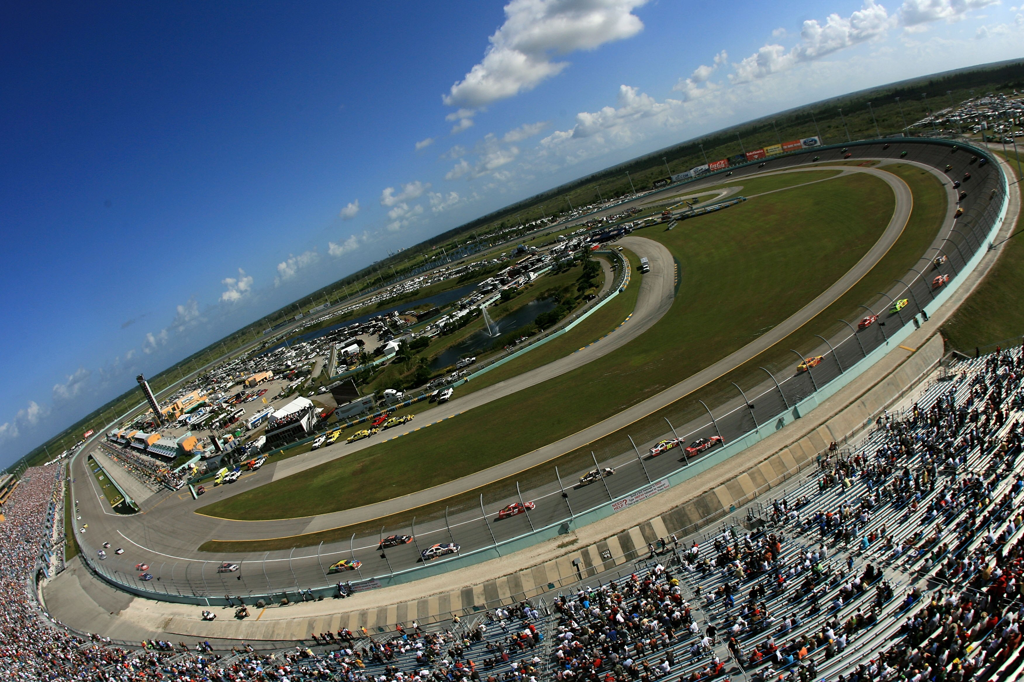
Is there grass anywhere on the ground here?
Yes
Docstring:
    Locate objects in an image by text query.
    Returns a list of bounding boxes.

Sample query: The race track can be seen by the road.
[72,140,1003,595]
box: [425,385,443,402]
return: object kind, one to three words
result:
vehicle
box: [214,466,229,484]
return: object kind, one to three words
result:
vehicle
